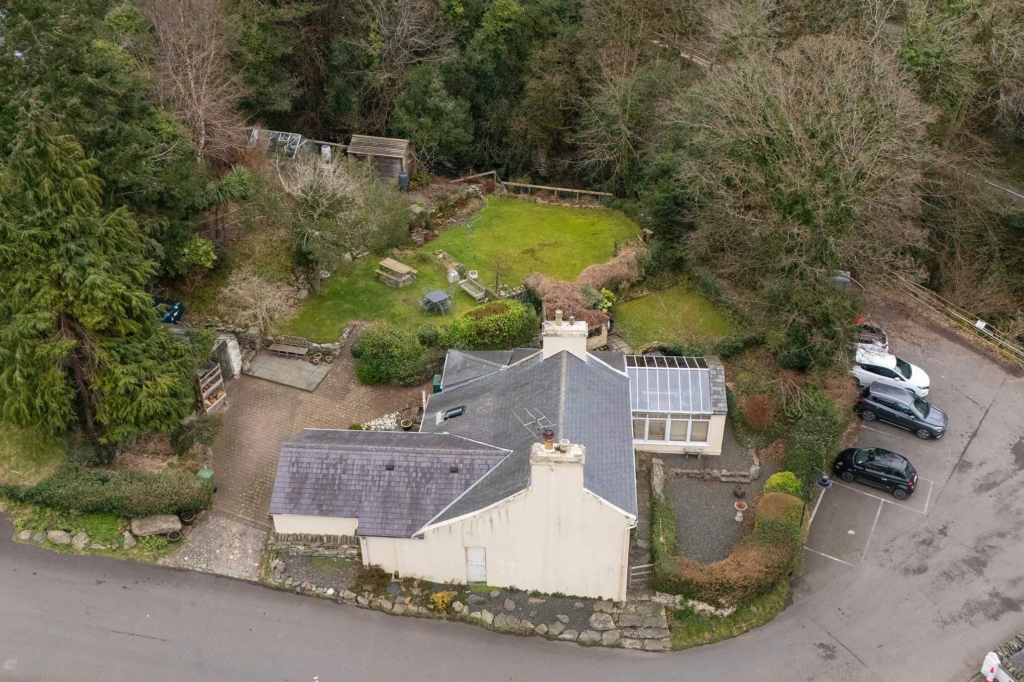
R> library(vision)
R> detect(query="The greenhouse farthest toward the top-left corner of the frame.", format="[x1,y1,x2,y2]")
[250,130,313,174]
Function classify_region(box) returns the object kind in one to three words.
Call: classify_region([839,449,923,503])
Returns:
car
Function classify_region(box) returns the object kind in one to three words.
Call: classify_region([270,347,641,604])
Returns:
house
